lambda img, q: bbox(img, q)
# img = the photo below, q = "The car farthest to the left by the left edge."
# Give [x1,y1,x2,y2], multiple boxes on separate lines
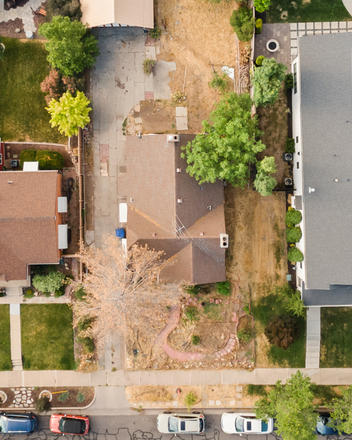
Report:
[0,409,39,436]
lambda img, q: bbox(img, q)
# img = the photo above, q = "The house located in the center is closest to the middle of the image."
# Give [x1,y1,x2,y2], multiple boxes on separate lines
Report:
[118,134,228,284]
